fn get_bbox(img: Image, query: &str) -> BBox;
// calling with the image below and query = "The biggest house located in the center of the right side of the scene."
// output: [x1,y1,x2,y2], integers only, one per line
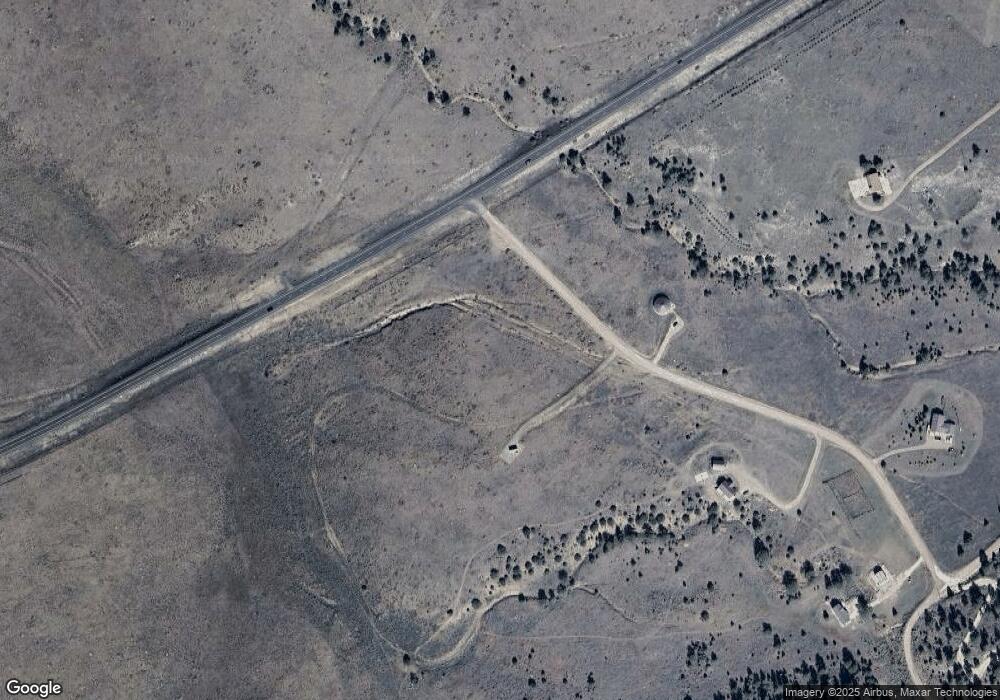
[932,413,956,433]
